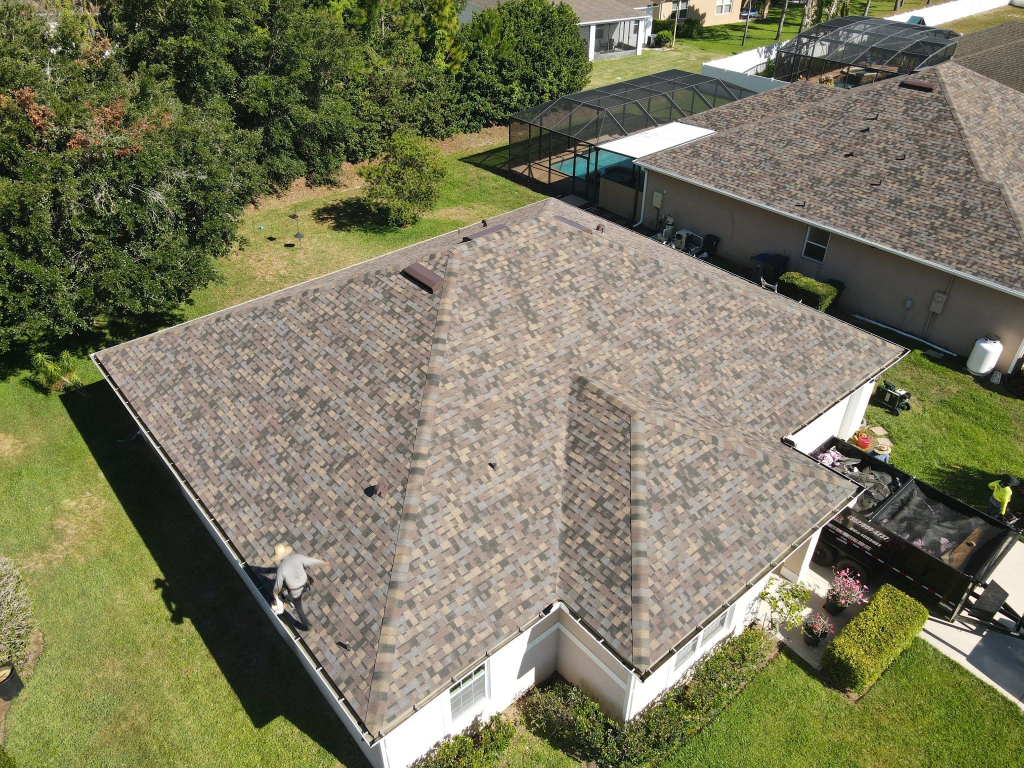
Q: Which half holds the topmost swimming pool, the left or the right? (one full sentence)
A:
The topmost swimming pool appears in the right half of the scene.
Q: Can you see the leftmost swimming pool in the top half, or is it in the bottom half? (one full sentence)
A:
Seen from above, the leftmost swimming pool lies in the top half of the view.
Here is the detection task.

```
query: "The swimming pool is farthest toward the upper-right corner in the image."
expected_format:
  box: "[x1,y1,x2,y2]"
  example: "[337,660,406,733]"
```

[784,65,900,89]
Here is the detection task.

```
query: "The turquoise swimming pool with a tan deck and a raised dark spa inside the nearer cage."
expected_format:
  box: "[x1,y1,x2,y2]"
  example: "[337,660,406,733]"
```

[512,142,644,219]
